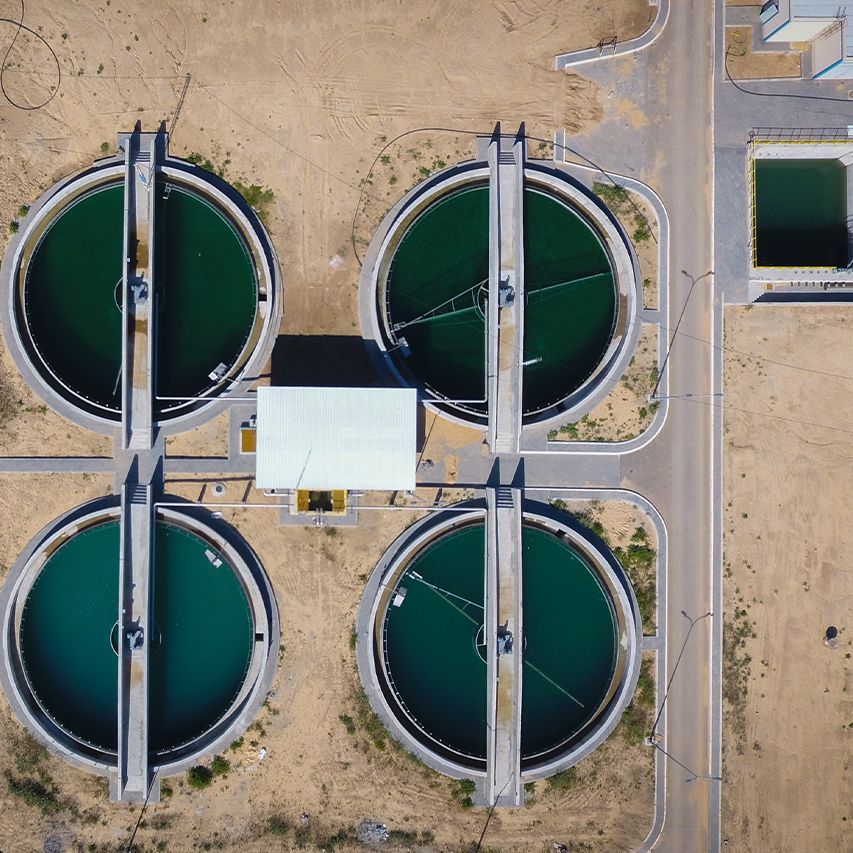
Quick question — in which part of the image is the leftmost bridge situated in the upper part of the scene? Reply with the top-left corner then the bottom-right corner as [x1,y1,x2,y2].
[122,139,156,449]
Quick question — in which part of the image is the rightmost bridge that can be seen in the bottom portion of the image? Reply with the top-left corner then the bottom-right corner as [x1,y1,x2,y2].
[483,486,521,805]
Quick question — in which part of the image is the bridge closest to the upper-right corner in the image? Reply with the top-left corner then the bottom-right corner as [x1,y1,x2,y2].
[485,142,522,453]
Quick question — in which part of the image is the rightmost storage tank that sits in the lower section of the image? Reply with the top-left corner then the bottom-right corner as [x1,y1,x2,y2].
[357,486,641,805]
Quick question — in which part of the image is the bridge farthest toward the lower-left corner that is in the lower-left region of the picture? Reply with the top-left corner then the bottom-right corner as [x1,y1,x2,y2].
[117,483,152,801]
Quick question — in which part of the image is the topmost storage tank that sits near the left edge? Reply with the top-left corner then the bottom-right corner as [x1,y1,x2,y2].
[0,139,283,449]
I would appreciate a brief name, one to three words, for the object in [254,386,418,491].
shed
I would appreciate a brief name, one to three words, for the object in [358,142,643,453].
storage tank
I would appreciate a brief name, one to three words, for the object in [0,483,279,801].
storage tank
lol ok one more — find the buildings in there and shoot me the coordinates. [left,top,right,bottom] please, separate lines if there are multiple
[761,0,853,78]
[254,386,418,491]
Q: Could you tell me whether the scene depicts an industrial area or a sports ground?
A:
industrial area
